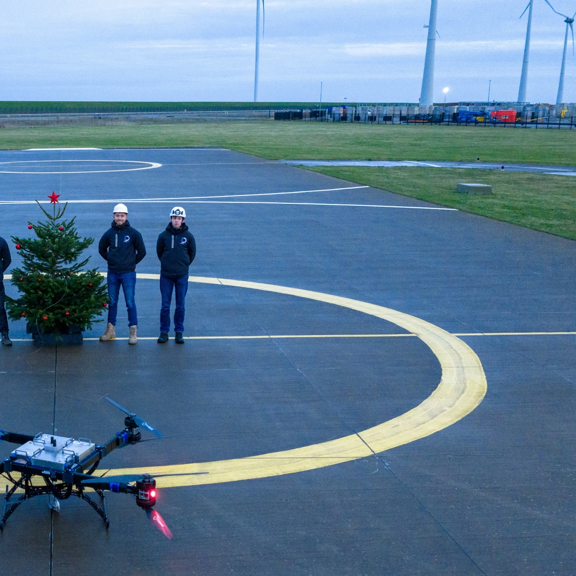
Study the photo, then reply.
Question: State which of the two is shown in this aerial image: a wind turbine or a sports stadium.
wind turbine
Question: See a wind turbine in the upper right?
Yes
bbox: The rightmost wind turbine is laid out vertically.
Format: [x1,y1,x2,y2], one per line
[551,0,576,99]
